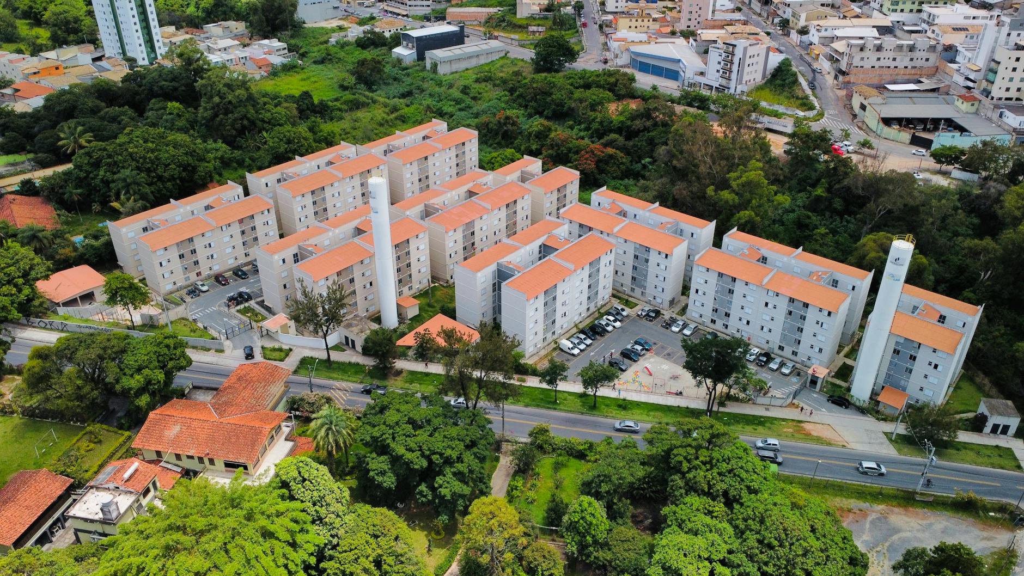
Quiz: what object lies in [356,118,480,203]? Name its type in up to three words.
building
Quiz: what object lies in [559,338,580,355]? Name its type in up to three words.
vehicle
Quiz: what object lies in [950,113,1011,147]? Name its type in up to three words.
shed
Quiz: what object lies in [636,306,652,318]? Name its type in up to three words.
vehicle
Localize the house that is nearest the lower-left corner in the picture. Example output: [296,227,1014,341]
[0,465,81,554]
